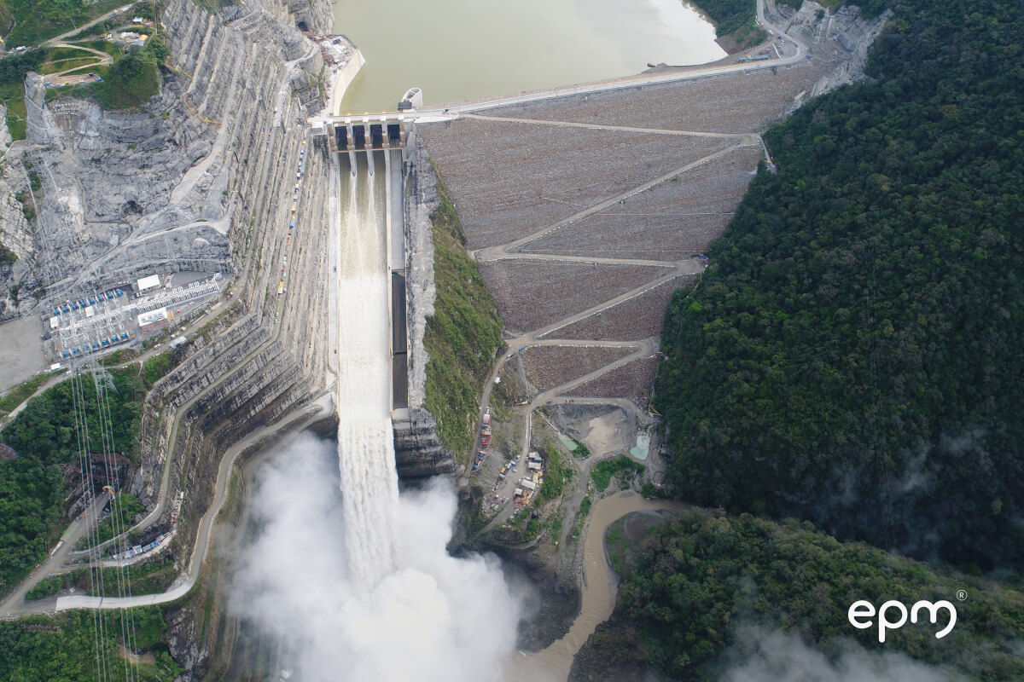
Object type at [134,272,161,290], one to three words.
building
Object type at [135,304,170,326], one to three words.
building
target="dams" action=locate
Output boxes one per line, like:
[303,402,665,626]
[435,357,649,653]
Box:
[415,55,829,405]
